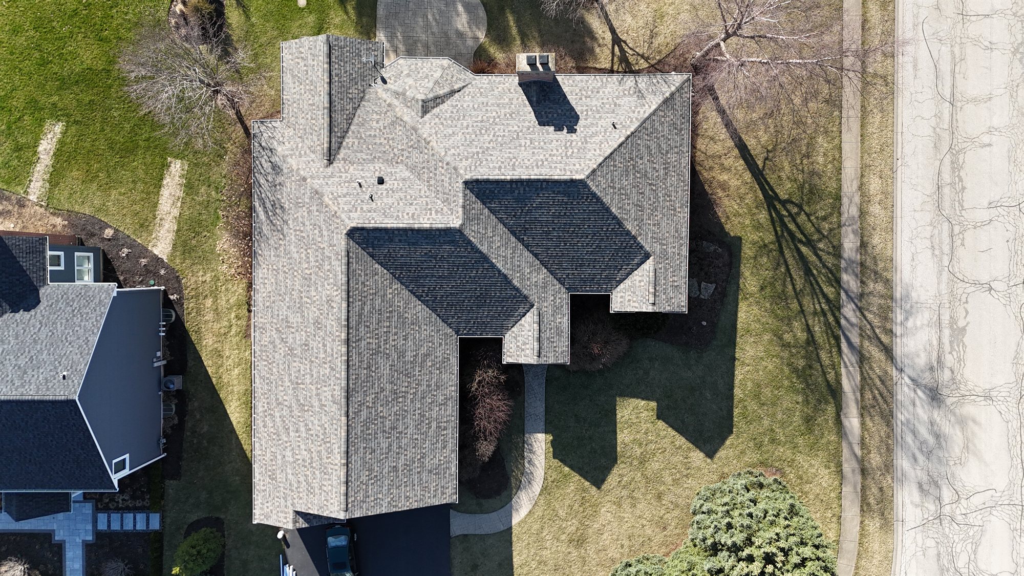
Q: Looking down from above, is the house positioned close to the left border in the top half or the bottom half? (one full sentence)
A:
You can find the house positioned close to the left border in the bottom half.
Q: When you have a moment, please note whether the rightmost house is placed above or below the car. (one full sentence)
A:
It's above the car that the rightmost house shows up.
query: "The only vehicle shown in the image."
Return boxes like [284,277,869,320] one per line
[323,520,360,576]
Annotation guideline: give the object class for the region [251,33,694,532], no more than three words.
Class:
house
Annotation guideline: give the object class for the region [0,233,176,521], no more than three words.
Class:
house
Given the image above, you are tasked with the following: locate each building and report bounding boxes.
[0,233,176,521]
[251,33,694,532]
